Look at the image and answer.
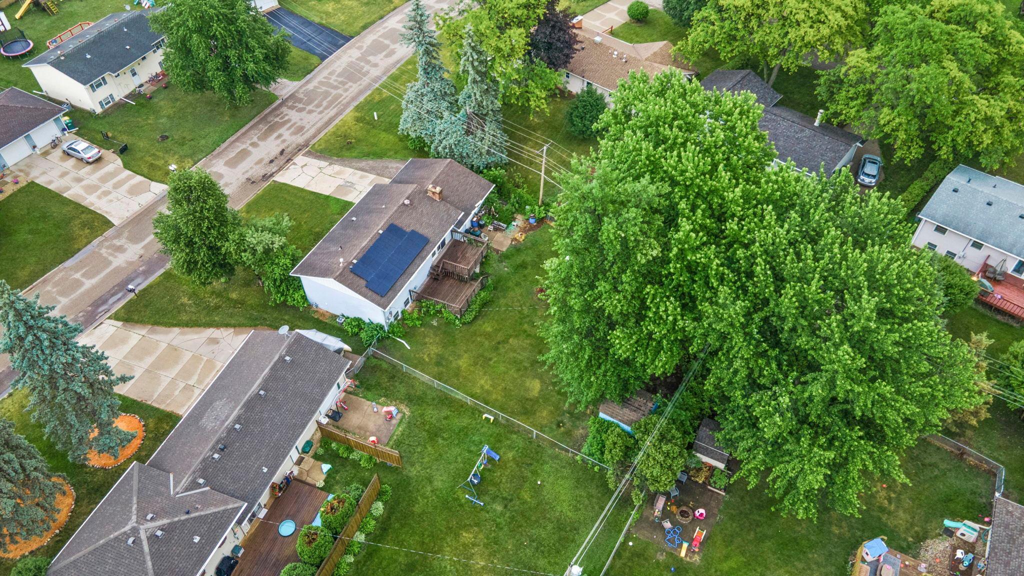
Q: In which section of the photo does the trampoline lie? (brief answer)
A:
top left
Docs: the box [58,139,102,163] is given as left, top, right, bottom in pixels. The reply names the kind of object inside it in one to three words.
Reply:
car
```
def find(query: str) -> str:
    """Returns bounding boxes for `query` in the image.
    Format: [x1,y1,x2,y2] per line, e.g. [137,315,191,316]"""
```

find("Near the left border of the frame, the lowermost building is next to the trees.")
[43,325,351,576]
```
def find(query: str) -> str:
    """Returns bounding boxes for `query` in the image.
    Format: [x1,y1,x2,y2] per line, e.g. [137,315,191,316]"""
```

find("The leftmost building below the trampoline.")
[0,85,88,171]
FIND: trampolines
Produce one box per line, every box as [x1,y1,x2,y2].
[0,28,35,61]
